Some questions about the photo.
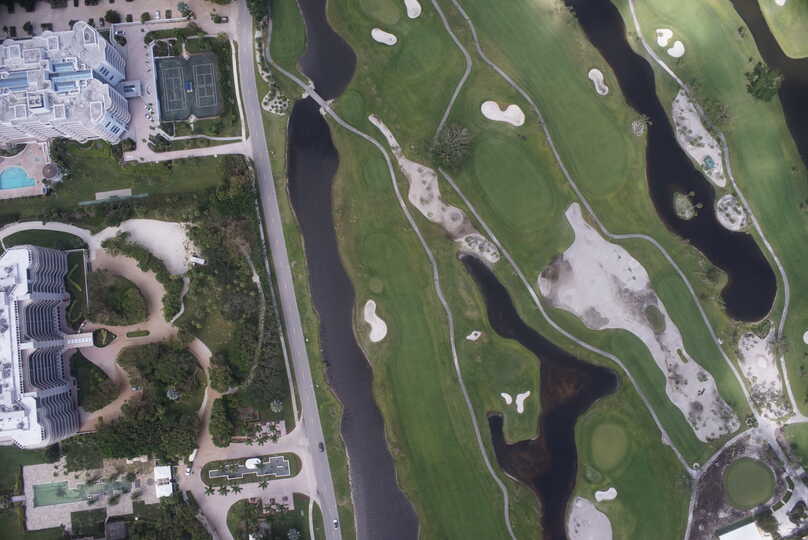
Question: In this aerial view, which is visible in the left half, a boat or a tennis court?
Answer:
tennis court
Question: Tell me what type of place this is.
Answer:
golf course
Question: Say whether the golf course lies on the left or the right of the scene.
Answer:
right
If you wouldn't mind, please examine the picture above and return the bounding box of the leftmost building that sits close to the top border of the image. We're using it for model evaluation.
[0,21,128,142]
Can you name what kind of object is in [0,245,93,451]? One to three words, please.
building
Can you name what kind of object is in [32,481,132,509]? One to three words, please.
swimming pool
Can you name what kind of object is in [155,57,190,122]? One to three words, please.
tennis court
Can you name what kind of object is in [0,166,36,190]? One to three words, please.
swimming pool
